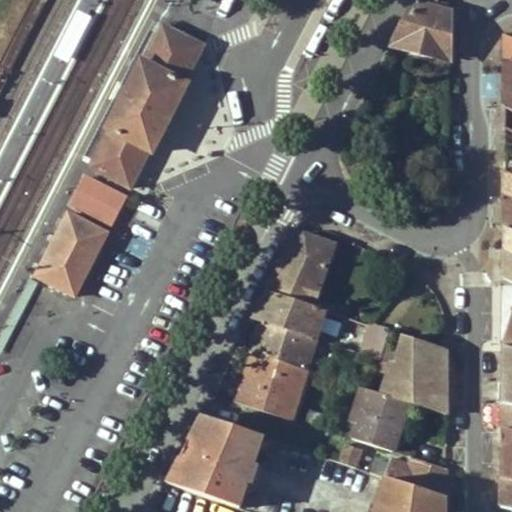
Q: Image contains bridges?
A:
No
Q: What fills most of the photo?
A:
paved ground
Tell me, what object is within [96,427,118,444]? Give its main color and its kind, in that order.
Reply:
white car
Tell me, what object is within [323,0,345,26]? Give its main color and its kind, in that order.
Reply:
white vehicle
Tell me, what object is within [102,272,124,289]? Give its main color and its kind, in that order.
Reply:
white car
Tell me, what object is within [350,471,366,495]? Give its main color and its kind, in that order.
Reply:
white vehicle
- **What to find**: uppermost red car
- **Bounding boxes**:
[166,282,186,298]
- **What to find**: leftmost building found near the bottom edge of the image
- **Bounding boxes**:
[165,413,264,511]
